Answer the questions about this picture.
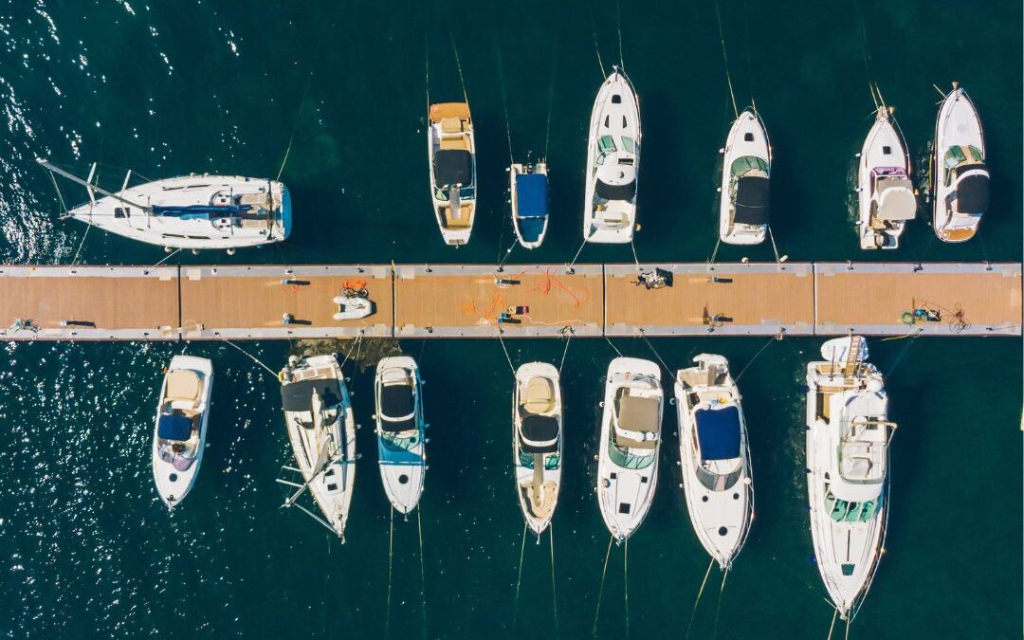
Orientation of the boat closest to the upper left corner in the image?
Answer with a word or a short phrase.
from left to right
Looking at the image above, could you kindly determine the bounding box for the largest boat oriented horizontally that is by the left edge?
[30,165,293,250]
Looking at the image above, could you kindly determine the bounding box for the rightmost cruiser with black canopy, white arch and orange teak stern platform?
[927,84,986,242]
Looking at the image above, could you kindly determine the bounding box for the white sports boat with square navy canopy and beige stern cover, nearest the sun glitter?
[155,354,214,514]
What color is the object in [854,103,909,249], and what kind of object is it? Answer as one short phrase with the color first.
white boat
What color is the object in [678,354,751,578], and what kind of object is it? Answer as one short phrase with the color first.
white boat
